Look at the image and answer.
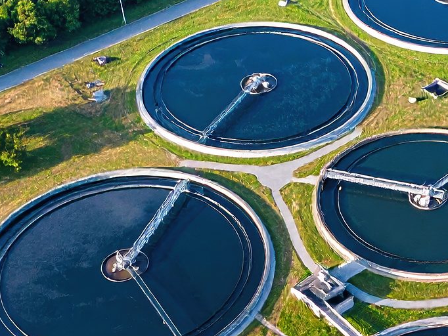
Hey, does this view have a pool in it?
No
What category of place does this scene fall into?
industrial area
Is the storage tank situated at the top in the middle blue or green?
blue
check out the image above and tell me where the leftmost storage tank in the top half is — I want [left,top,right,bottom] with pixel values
[139,24,375,159]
